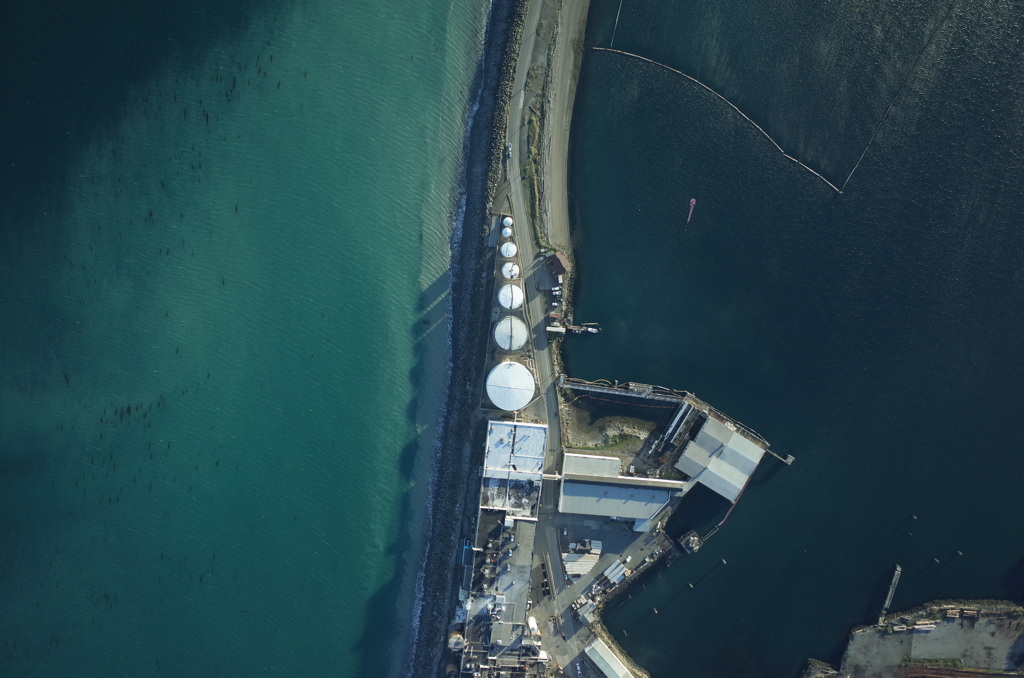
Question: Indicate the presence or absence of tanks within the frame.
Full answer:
Yes, a tank appears in the view.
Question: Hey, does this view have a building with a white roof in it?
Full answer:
Yes, the frame does contain a building with a white roof.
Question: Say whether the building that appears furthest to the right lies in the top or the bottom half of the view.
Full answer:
The building that appears furthest to the right is in the bottom half of the image.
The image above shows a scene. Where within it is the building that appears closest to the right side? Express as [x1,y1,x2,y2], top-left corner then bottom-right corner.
[672,416,766,502]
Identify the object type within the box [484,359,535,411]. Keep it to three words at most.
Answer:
storage tank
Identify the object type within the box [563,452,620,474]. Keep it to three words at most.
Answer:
building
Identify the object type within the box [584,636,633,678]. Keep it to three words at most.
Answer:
building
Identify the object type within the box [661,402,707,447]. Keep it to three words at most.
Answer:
pier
